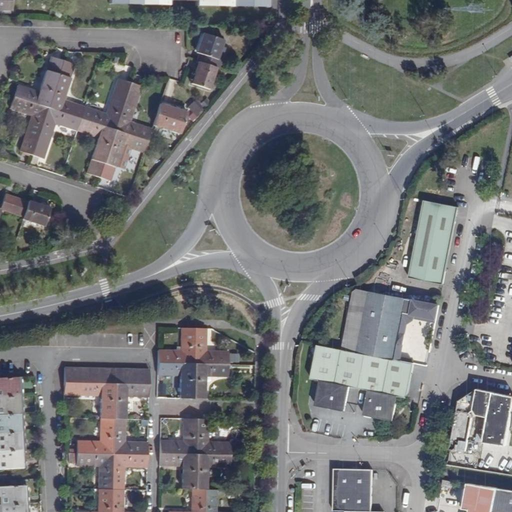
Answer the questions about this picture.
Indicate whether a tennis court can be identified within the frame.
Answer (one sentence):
No, the scene contains no tennis court.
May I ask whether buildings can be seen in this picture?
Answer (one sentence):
Yes, a building can be made out from above.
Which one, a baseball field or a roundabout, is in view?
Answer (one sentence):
It is a roundabout that can be seen here.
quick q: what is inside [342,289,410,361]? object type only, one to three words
building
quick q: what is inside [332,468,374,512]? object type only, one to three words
building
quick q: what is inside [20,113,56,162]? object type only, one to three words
house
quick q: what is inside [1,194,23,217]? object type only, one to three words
house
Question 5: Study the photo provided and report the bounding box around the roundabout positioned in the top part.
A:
[201,93,398,291]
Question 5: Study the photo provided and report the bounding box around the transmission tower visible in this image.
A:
[450,5,494,20]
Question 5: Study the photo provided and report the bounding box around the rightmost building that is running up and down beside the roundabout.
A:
[408,200,460,286]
